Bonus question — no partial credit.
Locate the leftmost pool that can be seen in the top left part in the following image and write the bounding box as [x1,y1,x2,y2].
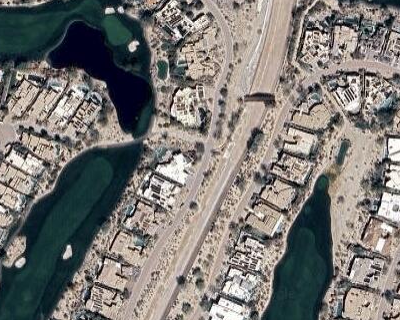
[22,69,49,85]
